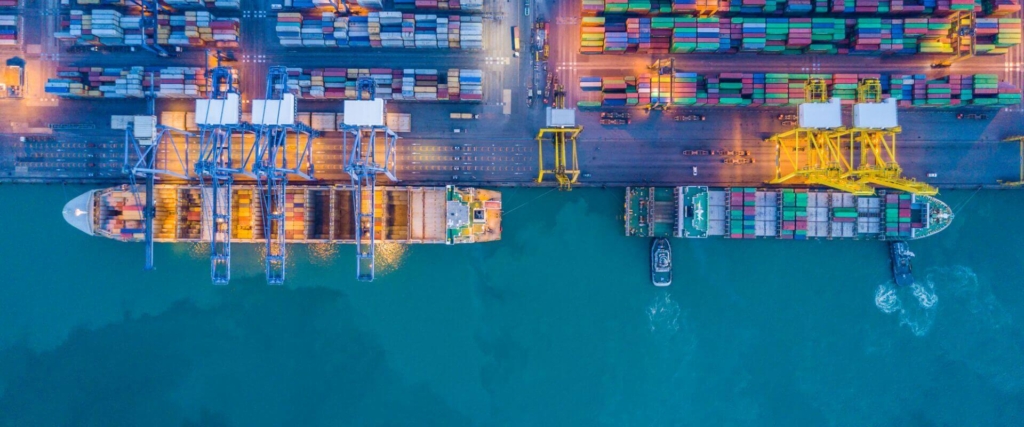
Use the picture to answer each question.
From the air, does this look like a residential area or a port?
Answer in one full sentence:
The picture captures a port.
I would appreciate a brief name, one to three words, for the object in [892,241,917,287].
boat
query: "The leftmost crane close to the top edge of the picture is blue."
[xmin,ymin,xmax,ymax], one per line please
[140,3,175,66]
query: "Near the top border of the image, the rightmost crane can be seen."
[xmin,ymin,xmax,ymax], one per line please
[936,9,974,67]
